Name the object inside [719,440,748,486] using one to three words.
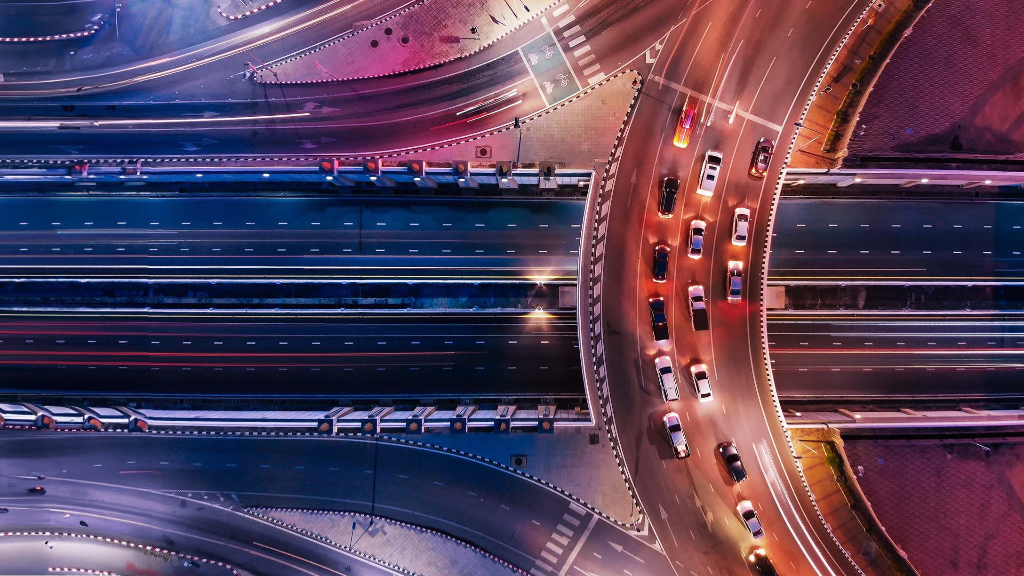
car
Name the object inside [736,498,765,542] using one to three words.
car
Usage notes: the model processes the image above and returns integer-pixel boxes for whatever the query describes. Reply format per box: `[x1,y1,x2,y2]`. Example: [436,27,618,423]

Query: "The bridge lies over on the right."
[576,169,791,426]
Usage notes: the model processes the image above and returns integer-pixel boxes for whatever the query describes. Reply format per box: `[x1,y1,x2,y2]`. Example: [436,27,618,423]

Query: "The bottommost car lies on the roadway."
[747,545,774,576]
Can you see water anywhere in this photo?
No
